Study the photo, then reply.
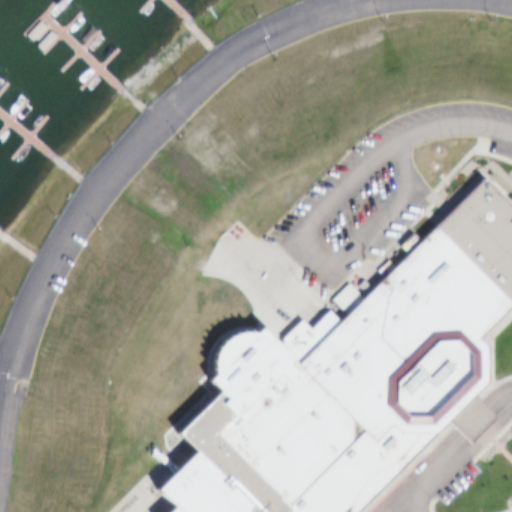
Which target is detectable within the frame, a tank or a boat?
boat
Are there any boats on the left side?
Yes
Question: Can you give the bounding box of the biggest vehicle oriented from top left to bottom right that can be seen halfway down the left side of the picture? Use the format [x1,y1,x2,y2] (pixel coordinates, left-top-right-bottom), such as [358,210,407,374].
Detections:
[74,234,90,250]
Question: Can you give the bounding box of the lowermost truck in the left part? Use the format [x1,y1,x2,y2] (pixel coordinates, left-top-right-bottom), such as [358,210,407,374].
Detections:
[147,444,172,468]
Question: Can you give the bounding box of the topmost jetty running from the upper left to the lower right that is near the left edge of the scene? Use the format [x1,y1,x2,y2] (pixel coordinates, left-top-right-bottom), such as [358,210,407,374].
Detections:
[23,4,148,111]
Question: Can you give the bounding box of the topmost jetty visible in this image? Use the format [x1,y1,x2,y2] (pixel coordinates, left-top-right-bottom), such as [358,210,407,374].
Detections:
[138,0,215,50]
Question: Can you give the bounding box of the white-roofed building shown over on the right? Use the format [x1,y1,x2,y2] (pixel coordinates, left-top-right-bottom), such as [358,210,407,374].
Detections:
[156,175,512,512]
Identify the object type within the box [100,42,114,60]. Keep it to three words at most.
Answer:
boat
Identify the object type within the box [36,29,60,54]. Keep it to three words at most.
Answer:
boat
